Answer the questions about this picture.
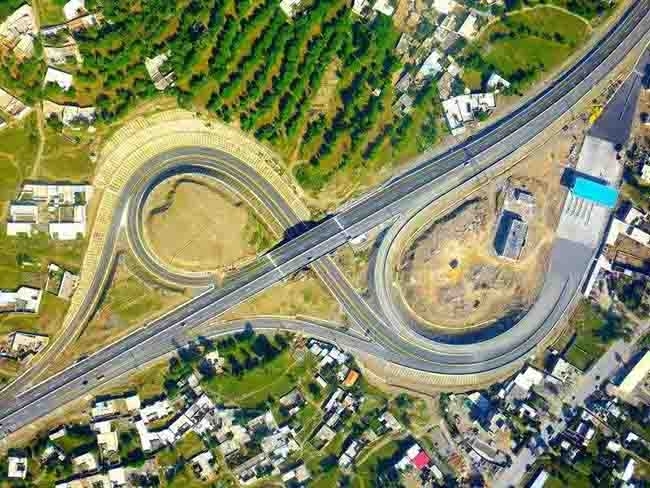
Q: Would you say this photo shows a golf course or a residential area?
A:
residential area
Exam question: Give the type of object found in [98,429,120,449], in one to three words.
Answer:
house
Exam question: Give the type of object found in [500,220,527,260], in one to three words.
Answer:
building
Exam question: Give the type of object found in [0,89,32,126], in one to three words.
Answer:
house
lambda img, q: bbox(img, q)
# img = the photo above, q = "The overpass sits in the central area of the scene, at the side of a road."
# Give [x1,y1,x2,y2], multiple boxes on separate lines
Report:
[260,213,358,282]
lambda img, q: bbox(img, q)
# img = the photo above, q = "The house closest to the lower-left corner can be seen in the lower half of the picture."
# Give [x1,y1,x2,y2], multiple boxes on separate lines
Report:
[7,455,30,477]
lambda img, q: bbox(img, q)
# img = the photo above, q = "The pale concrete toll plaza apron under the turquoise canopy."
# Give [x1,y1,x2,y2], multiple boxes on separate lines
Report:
[556,136,621,249]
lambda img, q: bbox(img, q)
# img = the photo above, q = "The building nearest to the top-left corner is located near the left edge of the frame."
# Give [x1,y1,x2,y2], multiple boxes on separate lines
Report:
[1,3,37,41]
